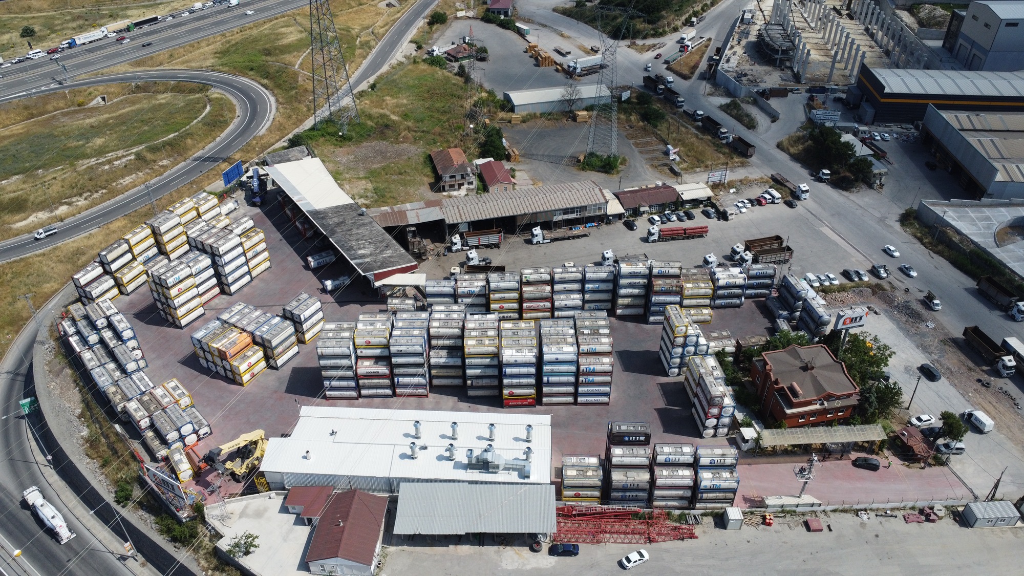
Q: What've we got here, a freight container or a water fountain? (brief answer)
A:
freight container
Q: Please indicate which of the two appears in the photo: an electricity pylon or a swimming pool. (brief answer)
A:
electricity pylon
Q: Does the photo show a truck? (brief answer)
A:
Yes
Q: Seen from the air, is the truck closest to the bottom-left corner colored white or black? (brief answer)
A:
white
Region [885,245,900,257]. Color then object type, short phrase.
white vehicle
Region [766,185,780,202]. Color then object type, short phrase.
white vehicle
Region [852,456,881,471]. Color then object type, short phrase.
black car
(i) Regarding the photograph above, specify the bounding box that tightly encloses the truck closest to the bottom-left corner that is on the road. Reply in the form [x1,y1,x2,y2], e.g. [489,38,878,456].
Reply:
[23,487,77,541]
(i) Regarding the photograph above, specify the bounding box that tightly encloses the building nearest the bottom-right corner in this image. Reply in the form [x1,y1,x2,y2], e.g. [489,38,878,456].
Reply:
[961,500,1021,529]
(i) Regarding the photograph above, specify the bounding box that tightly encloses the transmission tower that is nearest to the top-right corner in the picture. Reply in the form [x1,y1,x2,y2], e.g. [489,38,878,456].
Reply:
[579,0,647,157]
